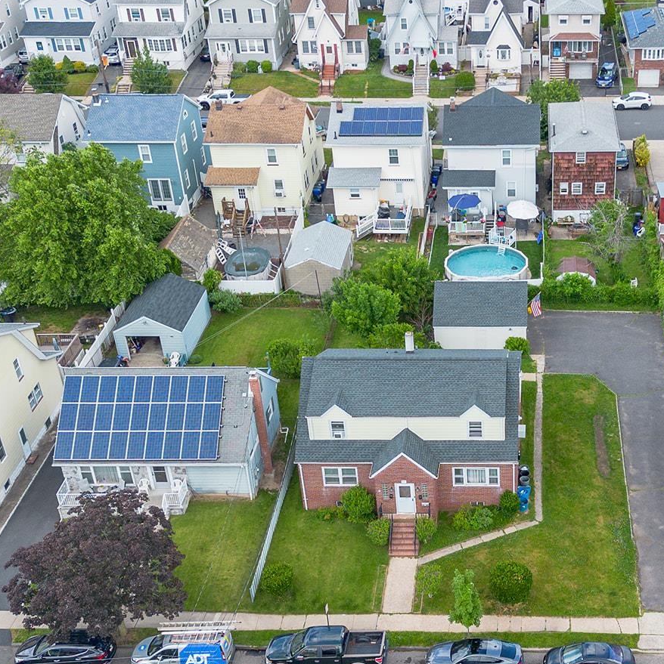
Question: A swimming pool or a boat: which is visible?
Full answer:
Looking from above, you can make out a swimming pool.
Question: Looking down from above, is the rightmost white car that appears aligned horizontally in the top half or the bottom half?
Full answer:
The top half of the photo is where the rightmost white car that appears aligned horizontally is.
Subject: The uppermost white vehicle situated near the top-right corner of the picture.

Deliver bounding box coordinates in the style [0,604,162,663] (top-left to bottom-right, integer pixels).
[610,90,653,110]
